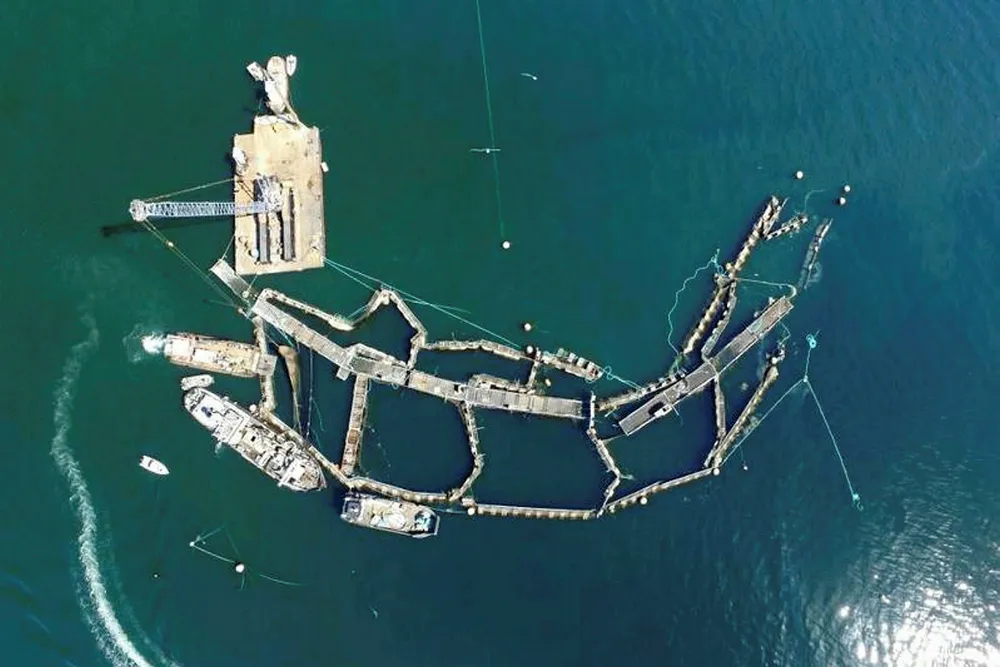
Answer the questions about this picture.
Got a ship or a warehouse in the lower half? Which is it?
ship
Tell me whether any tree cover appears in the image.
No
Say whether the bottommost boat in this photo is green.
No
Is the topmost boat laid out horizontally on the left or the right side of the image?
left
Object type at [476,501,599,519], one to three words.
pier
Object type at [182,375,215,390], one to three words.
boat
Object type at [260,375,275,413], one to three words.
pier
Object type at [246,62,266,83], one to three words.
boat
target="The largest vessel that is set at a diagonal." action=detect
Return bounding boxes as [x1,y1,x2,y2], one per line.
[183,381,325,491]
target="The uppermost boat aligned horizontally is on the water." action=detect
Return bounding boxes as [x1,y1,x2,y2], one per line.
[163,333,263,377]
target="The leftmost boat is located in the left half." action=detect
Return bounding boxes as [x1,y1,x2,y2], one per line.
[139,456,172,475]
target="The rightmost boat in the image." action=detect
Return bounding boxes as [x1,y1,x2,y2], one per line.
[341,493,439,538]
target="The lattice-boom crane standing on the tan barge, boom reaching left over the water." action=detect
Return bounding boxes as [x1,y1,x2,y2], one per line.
[130,178,291,318]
